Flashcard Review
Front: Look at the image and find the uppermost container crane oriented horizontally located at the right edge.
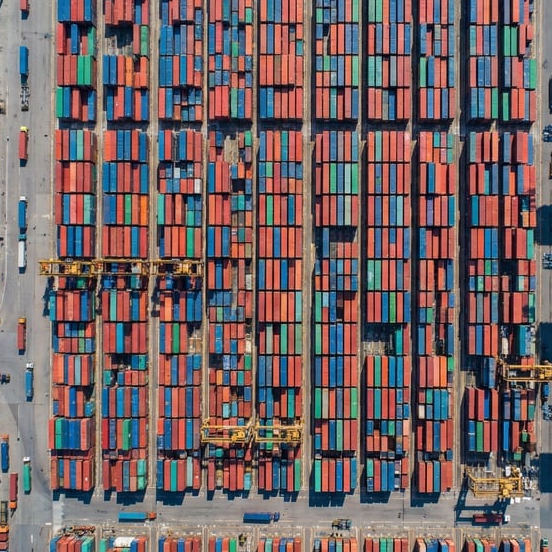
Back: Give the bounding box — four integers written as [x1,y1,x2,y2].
[496,358,552,383]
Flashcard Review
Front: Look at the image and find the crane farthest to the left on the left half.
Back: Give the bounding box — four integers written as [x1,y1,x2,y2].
[39,257,102,279]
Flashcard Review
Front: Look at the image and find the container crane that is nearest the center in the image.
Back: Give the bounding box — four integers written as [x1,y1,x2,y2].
[149,257,209,279]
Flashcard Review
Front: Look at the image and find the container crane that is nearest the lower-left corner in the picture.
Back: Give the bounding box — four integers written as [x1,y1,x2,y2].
[201,415,253,443]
